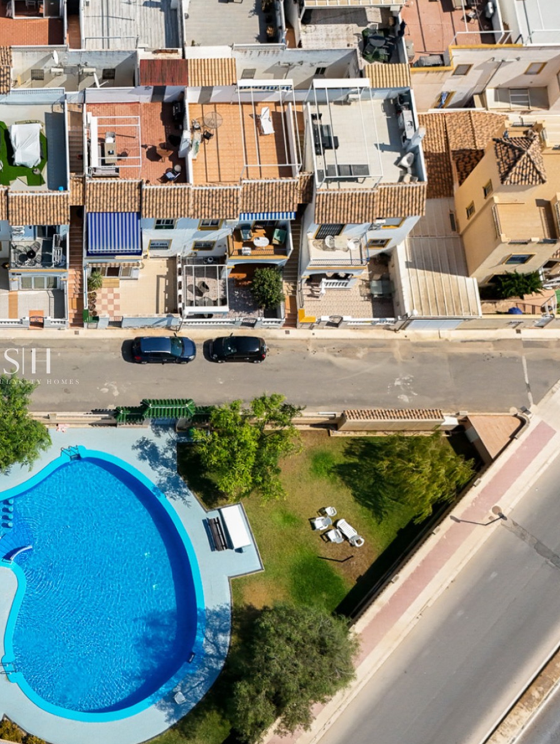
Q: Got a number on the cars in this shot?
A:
2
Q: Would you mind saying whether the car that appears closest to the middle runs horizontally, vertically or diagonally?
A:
horizontally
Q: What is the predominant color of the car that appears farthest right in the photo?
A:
black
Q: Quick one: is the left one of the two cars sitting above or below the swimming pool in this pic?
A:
above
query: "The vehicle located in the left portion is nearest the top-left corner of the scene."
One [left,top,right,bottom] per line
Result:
[131,334,197,367]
